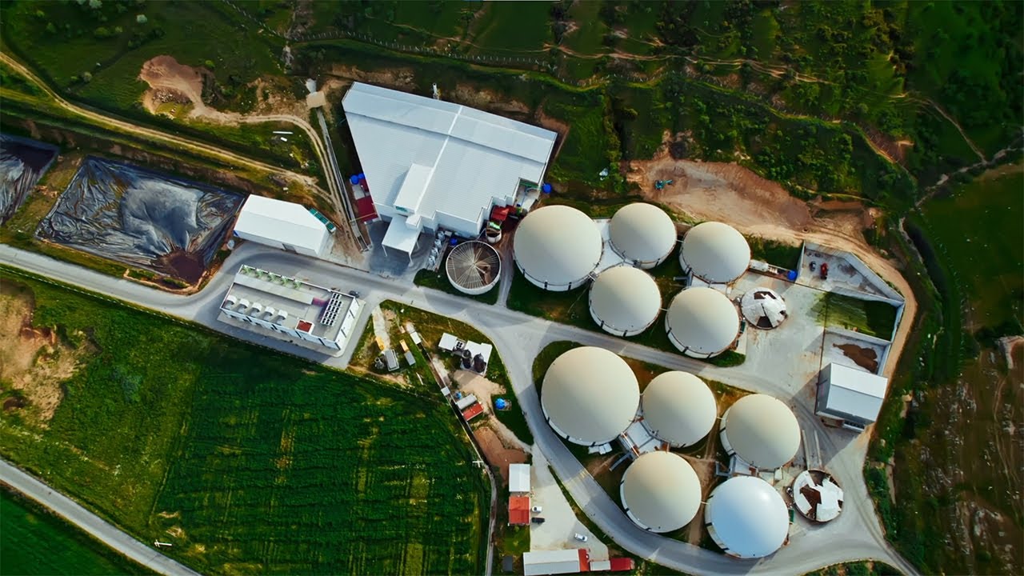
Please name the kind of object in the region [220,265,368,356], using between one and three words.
building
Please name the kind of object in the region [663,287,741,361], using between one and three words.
storage tank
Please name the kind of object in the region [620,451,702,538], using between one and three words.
storage tank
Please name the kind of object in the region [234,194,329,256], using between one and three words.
shed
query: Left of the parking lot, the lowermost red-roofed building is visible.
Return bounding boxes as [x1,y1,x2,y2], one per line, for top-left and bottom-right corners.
[509,497,529,524]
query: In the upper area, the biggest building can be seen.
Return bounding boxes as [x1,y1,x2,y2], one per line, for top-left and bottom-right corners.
[342,81,557,235]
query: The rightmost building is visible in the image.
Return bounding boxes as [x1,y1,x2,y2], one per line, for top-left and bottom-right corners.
[817,363,884,434]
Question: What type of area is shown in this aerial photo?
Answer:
industrial area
